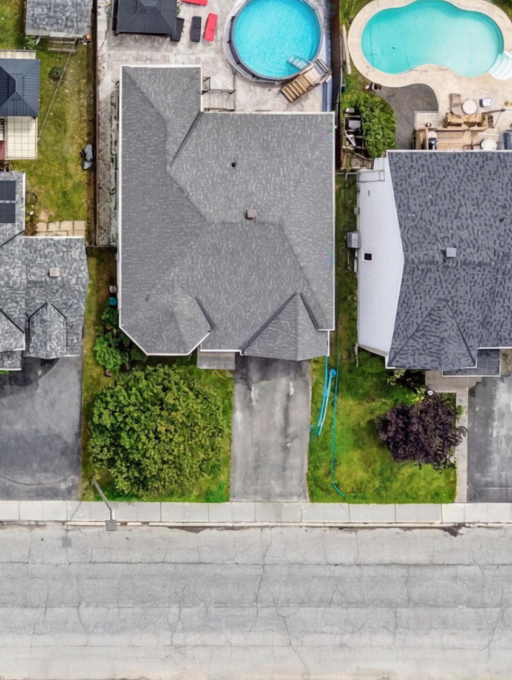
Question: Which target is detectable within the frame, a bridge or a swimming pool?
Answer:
swimming pool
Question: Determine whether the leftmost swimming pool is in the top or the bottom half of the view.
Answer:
top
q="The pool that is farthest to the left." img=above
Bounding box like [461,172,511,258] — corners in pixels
[224,0,324,84]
